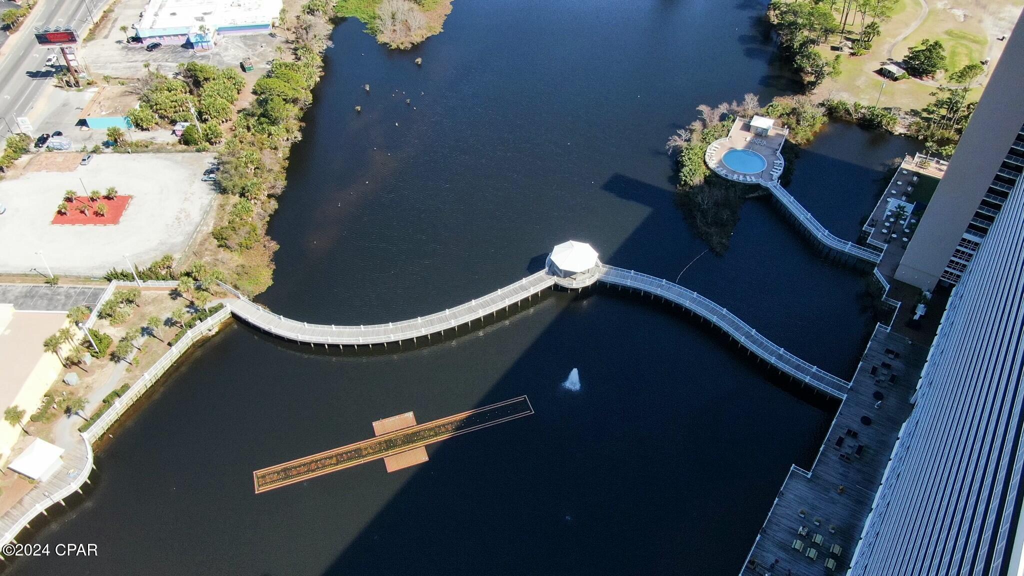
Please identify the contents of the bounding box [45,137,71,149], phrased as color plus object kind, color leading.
white vehicle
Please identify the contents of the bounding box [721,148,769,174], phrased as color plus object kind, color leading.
blue swimming pool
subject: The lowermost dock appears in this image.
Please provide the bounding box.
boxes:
[383,445,430,472]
